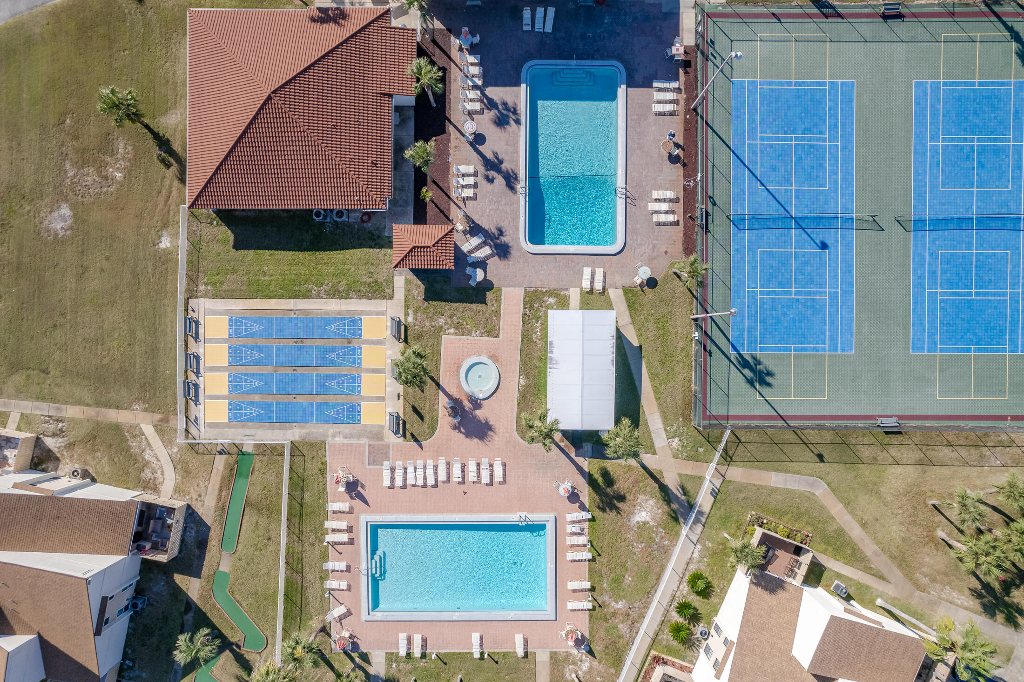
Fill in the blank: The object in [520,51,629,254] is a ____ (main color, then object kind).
blue swimming pool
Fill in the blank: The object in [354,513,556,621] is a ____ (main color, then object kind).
blue swimming pool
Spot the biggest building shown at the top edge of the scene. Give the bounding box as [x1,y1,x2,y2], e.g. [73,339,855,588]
[186,5,417,210]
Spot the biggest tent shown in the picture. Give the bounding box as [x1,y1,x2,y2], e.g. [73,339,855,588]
[547,310,616,430]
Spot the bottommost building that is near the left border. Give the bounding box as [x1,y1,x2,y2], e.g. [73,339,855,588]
[0,467,145,682]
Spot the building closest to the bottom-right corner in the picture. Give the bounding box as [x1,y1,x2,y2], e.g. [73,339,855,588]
[689,570,930,682]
